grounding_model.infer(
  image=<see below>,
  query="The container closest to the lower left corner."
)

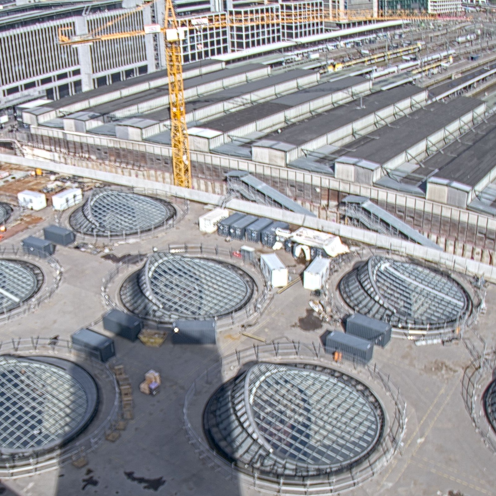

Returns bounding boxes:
[69,325,114,361]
